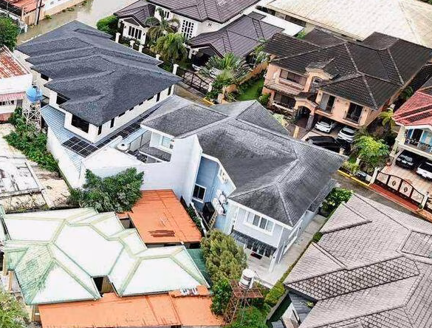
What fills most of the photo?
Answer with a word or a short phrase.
buildings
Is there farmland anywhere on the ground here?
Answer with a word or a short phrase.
No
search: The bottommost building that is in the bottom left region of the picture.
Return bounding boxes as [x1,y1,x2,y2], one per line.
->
[0,189,226,328]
